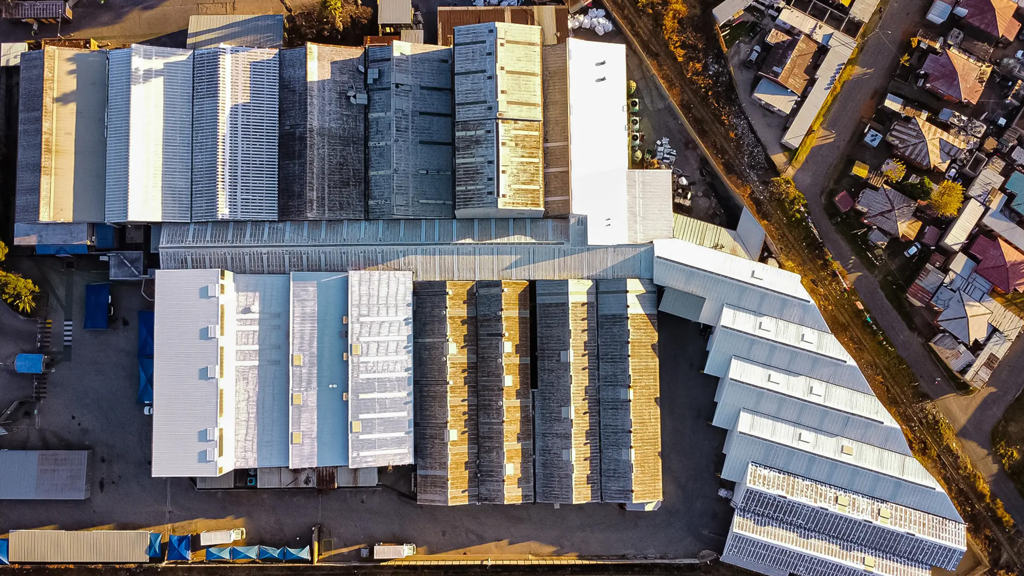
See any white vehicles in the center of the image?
No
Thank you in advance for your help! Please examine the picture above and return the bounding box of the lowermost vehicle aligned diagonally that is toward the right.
[903,240,924,258]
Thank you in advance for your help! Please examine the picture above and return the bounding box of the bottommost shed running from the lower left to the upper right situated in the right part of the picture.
[958,336,1012,387]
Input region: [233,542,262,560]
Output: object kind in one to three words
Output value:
tent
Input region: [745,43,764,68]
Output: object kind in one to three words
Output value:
car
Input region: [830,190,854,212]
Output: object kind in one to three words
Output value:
shed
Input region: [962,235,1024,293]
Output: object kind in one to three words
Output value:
house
